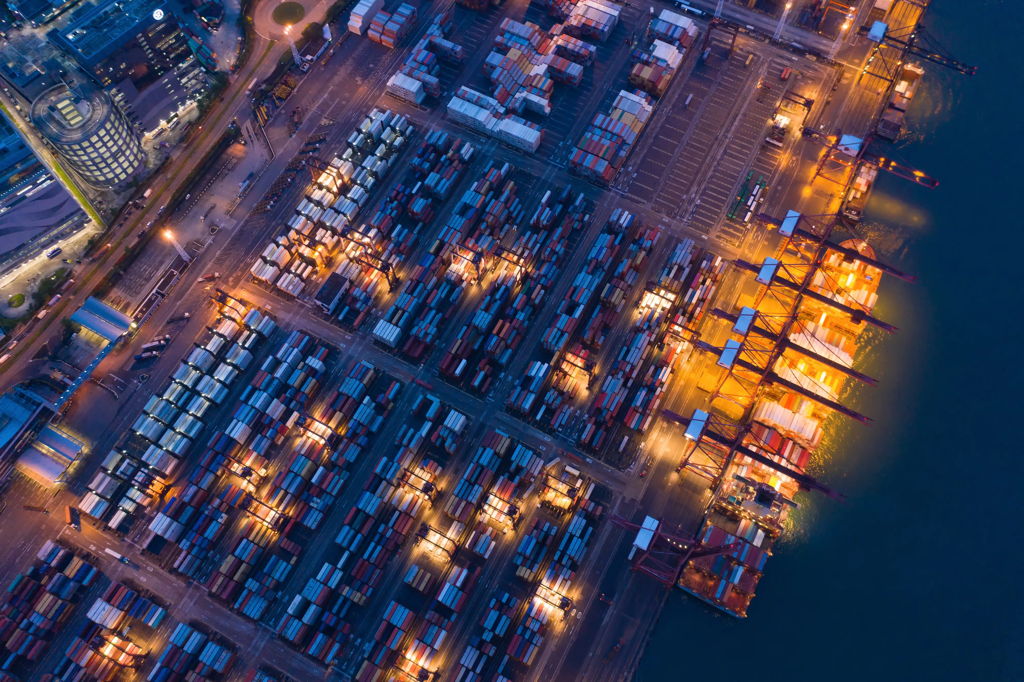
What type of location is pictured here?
port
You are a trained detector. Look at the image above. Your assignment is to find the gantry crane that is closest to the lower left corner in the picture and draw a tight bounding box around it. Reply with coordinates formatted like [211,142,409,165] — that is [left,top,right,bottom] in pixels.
[92,635,148,673]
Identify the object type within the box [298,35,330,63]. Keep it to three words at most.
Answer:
building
